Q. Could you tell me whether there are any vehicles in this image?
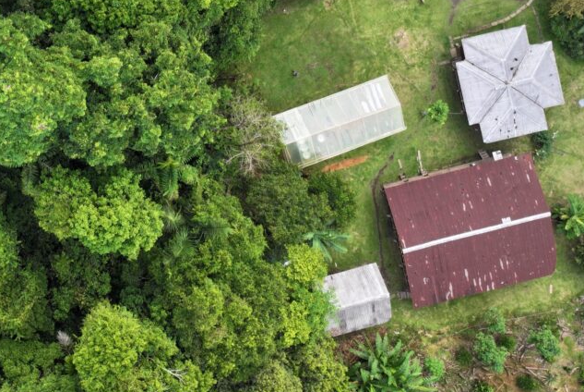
No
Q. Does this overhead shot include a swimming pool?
No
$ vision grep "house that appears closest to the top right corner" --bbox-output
[455,28,567,143]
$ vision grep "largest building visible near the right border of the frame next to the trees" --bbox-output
[379,153,556,306]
